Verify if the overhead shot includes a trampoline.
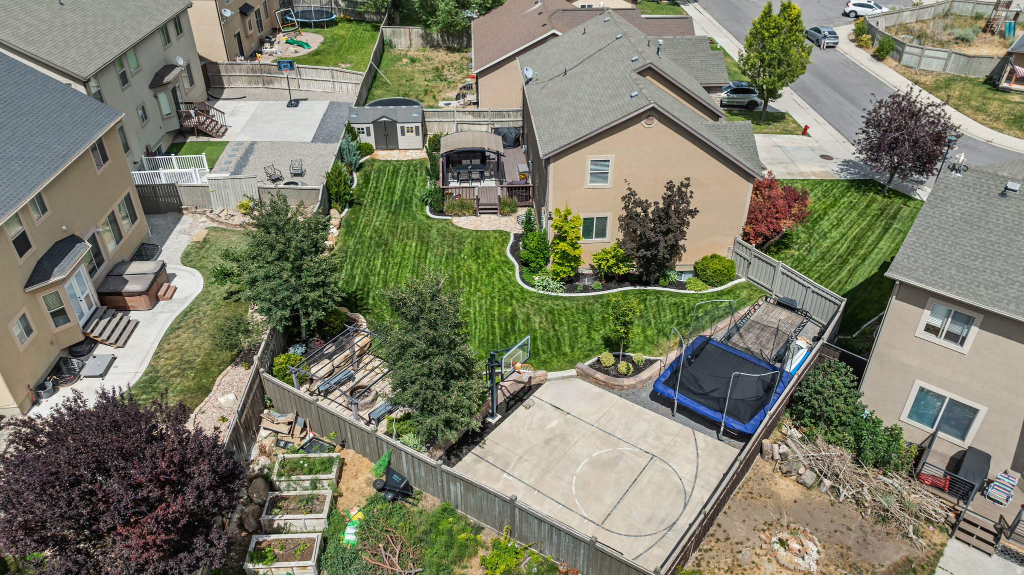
Yes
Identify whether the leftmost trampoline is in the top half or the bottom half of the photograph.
top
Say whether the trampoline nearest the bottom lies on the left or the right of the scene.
right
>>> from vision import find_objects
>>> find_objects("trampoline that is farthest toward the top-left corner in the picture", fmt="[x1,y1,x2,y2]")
[288,0,334,27]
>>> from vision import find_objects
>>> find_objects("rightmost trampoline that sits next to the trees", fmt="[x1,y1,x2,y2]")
[654,306,795,441]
